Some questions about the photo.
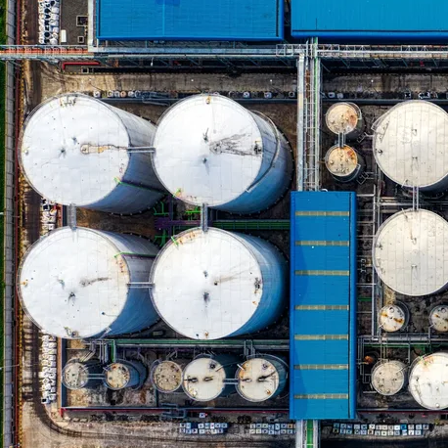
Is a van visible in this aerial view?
No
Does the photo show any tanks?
Yes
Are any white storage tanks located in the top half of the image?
Yes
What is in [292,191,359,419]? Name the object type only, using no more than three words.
shed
